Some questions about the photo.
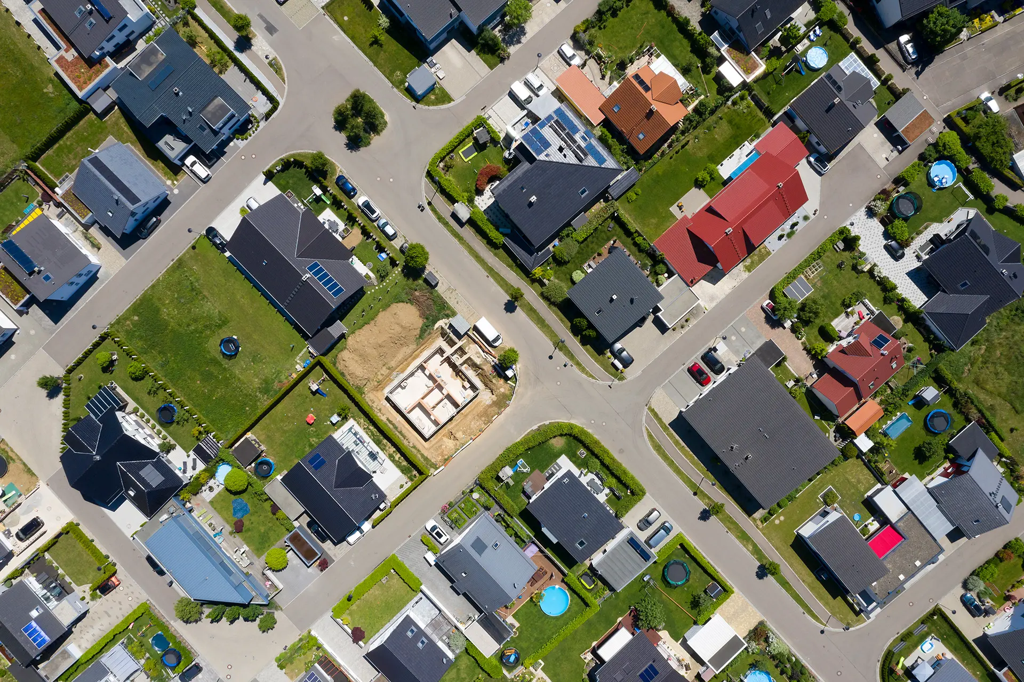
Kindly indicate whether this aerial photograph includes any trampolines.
Yes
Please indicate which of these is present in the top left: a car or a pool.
car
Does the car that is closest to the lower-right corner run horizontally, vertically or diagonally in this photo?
diagonally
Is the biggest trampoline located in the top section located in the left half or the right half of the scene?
right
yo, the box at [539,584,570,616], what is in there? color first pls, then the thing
blue swimming pool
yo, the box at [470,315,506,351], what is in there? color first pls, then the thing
white vehicle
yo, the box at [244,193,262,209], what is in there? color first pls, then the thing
white car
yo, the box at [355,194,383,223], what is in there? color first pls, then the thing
white car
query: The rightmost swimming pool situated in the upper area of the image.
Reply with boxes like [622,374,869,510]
[925,160,957,191]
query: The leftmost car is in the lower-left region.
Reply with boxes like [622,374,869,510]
[14,515,47,541]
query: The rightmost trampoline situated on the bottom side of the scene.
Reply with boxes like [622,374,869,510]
[923,409,956,435]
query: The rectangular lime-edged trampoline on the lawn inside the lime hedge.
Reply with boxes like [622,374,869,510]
[457,141,479,163]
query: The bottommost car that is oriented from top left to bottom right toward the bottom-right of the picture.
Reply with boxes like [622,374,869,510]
[957,591,986,619]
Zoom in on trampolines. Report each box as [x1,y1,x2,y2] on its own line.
[219,337,239,357]
[501,648,520,667]
[457,141,479,163]
[152,404,176,422]
[251,458,275,478]
[894,191,925,219]
[0,456,10,474]
[663,559,692,589]
[578,570,597,588]
[923,409,956,435]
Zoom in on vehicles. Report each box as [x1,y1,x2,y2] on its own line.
[98,574,124,596]
[183,154,213,184]
[178,660,205,682]
[244,193,262,209]
[957,591,986,619]
[635,507,663,531]
[355,194,383,223]
[896,34,919,64]
[759,298,780,322]
[557,41,584,69]
[144,553,169,578]
[137,214,164,240]
[806,151,831,177]
[642,519,675,549]
[470,315,506,351]
[344,520,373,544]
[397,241,411,255]
[375,217,400,242]
[508,77,535,107]
[522,71,549,98]
[686,361,713,387]
[699,348,727,376]
[608,340,636,370]
[424,518,452,547]
[334,174,359,199]
[881,238,906,262]
[14,515,47,541]
[204,225,228,252]
[196,148,219,169]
